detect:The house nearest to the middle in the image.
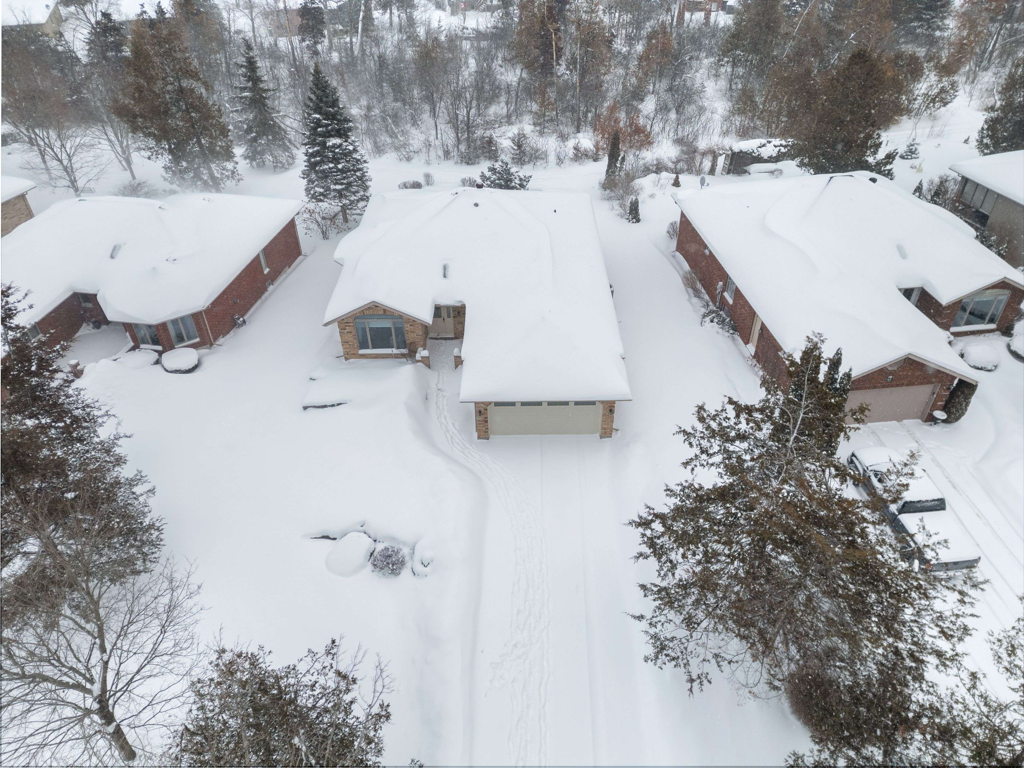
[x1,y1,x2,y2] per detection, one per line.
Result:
[323,176,634,441]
